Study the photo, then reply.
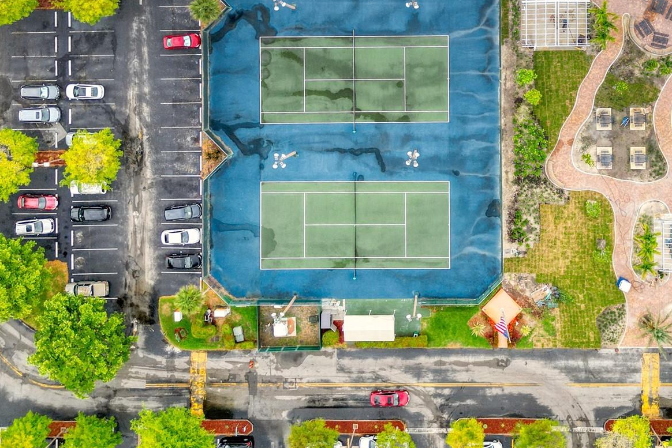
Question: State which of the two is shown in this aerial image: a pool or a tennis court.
tennis court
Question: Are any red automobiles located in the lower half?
Yes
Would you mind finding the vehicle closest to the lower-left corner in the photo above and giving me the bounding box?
[66,279,111,297]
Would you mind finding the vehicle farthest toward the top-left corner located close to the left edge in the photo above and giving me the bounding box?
[21,83,61,100]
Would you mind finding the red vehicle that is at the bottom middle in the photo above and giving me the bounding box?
[371,388,410,408]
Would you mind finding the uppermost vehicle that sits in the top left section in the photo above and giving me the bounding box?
[163,32,202,50]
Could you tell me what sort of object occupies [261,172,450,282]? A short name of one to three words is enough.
tennis court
